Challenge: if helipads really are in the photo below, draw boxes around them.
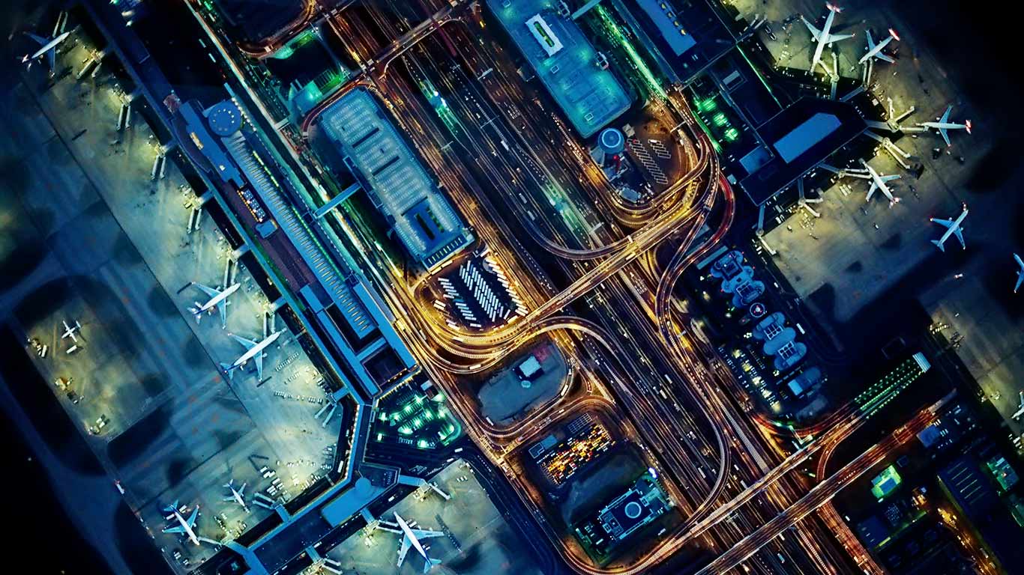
[627,504,640,517]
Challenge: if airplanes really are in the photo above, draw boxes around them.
[61,321,79,340]
[393,513,445,575]
[15,29,70,70]
[867,163,905,207]
[158,500,198,545]
[218,330,282,382]
[802,0,856,72]
[918,104,973,145]
[861,25,901,62]
[184,278,239,328]
[931,206,969,252]
[222,480,247,511]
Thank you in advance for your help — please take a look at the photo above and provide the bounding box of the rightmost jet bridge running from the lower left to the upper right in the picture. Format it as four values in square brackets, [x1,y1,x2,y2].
[894,103,917,122]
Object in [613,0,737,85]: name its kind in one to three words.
building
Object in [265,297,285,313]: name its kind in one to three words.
jet bridge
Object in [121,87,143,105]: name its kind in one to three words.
jet bridge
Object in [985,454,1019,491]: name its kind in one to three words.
building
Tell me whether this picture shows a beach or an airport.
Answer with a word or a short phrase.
airport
